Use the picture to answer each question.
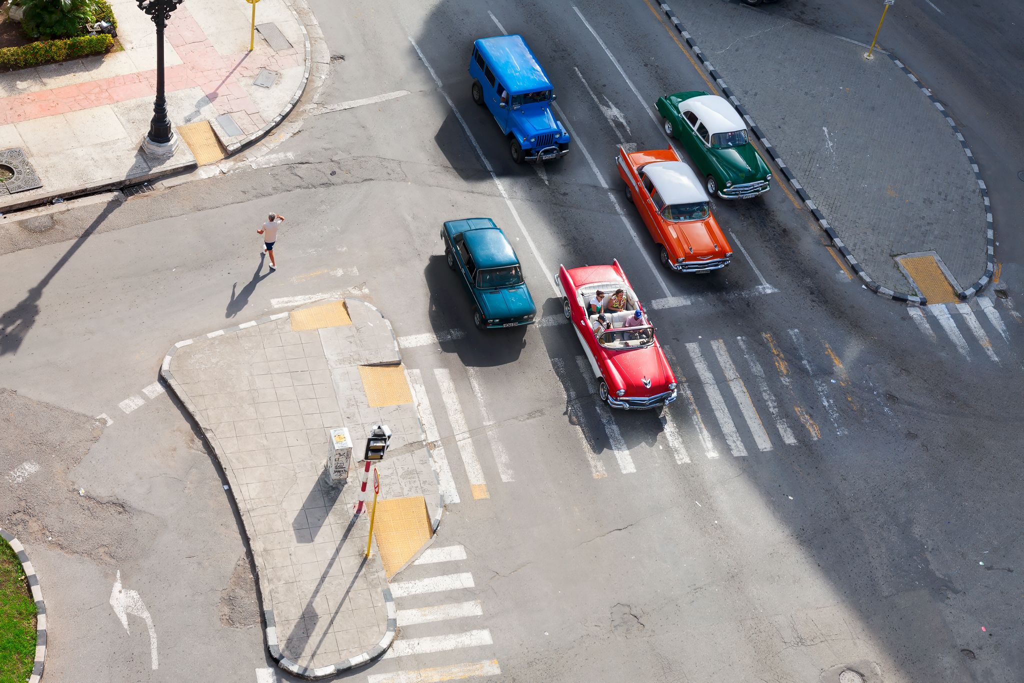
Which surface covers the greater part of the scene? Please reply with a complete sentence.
The scene is dominated by paved ground.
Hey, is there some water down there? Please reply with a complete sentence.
No, the picture contains no water.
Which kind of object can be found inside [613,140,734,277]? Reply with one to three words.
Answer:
car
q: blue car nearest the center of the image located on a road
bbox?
[437,219,540,332]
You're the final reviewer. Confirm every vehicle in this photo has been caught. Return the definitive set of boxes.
[556,256,681,414]
[437,219,540,332]
[613,140,734,277]
[657,96,774,201]
[470,36,575,163]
